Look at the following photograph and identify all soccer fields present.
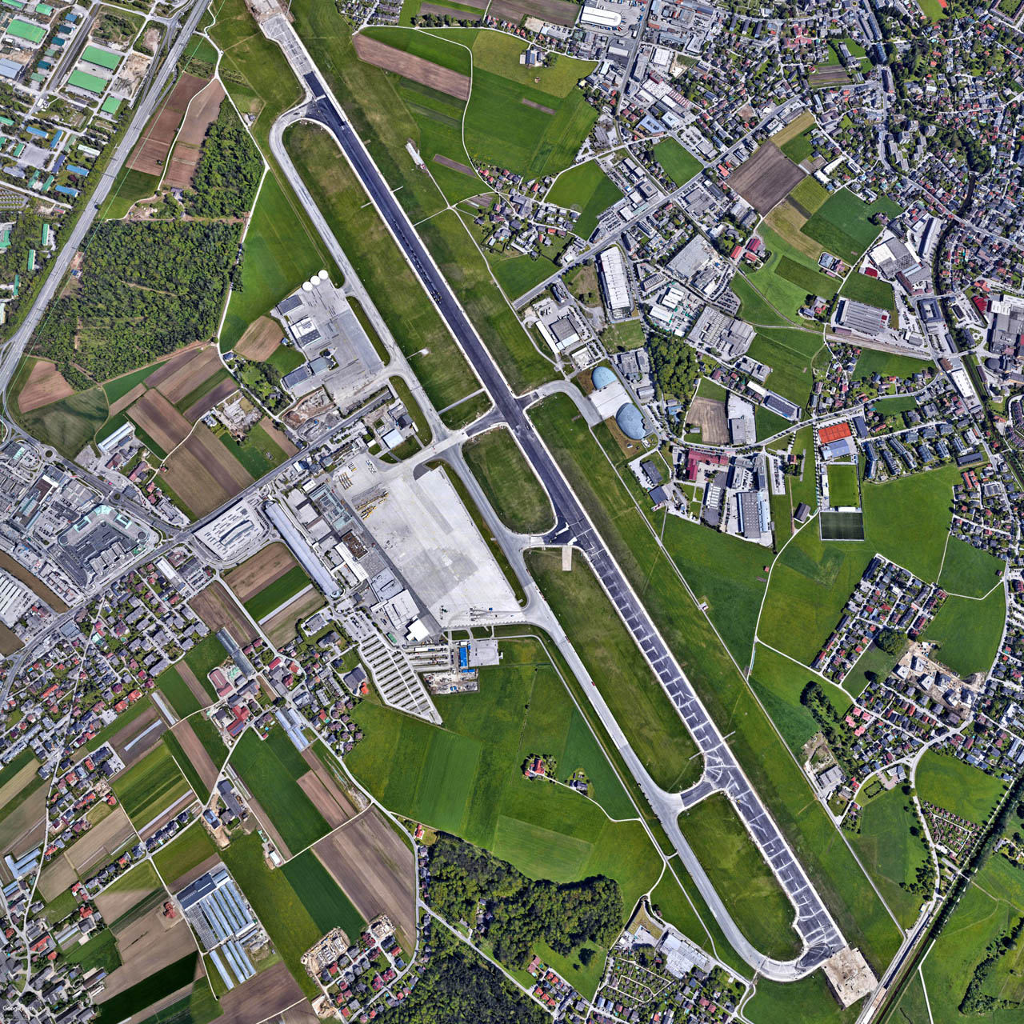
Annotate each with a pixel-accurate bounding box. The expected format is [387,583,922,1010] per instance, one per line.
[826,465,859,507]
[819,511,864,541]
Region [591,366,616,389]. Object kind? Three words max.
hangar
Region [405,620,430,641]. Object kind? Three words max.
hangar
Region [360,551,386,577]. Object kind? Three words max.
building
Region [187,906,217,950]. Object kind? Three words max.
greenhouse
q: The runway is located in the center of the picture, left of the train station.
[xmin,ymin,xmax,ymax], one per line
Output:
[262,14,840,948]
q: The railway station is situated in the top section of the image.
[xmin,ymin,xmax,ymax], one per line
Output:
[824,331,931,359]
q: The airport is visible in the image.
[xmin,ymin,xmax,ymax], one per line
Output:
[259,14,905,1010]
